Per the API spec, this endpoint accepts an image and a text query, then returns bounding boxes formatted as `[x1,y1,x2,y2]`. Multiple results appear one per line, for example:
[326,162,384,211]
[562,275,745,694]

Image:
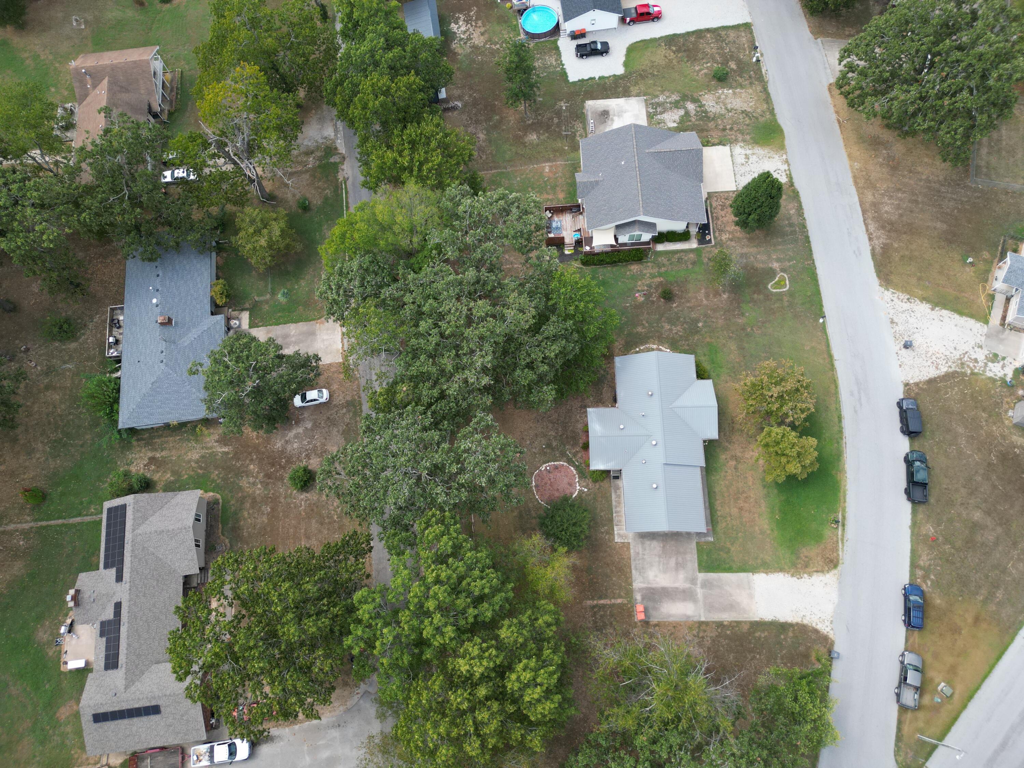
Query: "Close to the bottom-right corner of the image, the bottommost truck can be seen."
[894,649,923,709]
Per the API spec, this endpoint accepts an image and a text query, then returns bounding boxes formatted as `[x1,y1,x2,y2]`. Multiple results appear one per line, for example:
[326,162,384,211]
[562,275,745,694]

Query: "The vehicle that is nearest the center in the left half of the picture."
[292,388,331,408]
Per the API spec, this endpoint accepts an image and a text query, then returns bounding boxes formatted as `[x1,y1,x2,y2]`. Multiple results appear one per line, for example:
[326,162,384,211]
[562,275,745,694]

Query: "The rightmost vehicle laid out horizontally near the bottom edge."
[190,738,254,768]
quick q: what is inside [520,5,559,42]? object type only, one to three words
swimming pool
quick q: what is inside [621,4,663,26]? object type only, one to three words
truck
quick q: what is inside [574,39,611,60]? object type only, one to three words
truck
